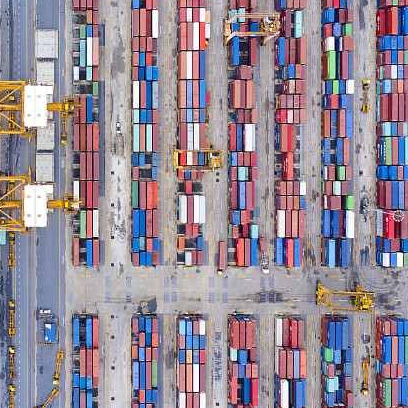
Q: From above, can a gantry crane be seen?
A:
Yes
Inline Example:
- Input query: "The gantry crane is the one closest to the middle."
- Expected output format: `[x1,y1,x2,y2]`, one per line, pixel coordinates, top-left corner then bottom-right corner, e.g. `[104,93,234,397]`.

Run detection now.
[173,145,224,174]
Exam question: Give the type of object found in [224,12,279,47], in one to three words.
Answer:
container crane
